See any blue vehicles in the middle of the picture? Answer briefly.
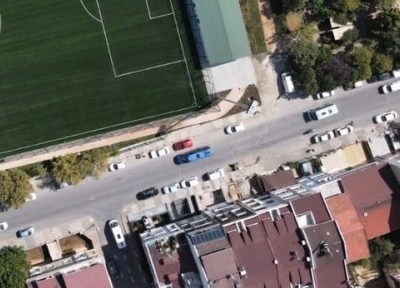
Yes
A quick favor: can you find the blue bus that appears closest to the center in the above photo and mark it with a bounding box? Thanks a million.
[175,145,218,168]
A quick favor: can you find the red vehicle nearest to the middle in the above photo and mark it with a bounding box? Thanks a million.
[173,139,193,151]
